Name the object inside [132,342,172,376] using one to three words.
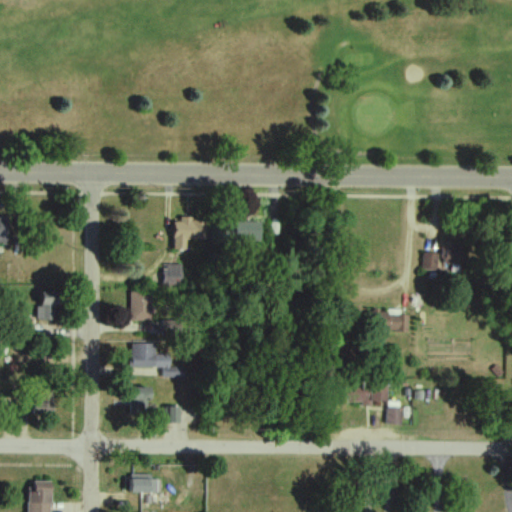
house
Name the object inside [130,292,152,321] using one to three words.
house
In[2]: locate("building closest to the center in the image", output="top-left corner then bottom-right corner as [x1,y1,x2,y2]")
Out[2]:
[236,220,263,236]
